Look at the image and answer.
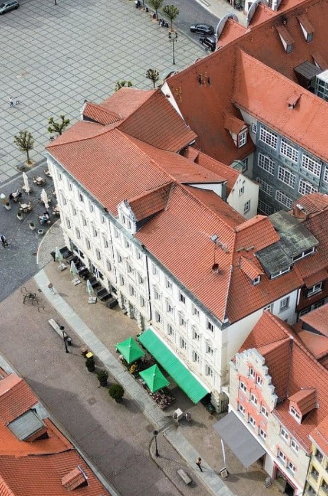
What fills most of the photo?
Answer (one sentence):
For the most part, this view shows buildings.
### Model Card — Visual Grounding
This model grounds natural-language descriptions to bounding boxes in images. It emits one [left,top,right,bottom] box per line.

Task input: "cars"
[189,23,216,35]
[199,36,217,52]
[0,0,20,12]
